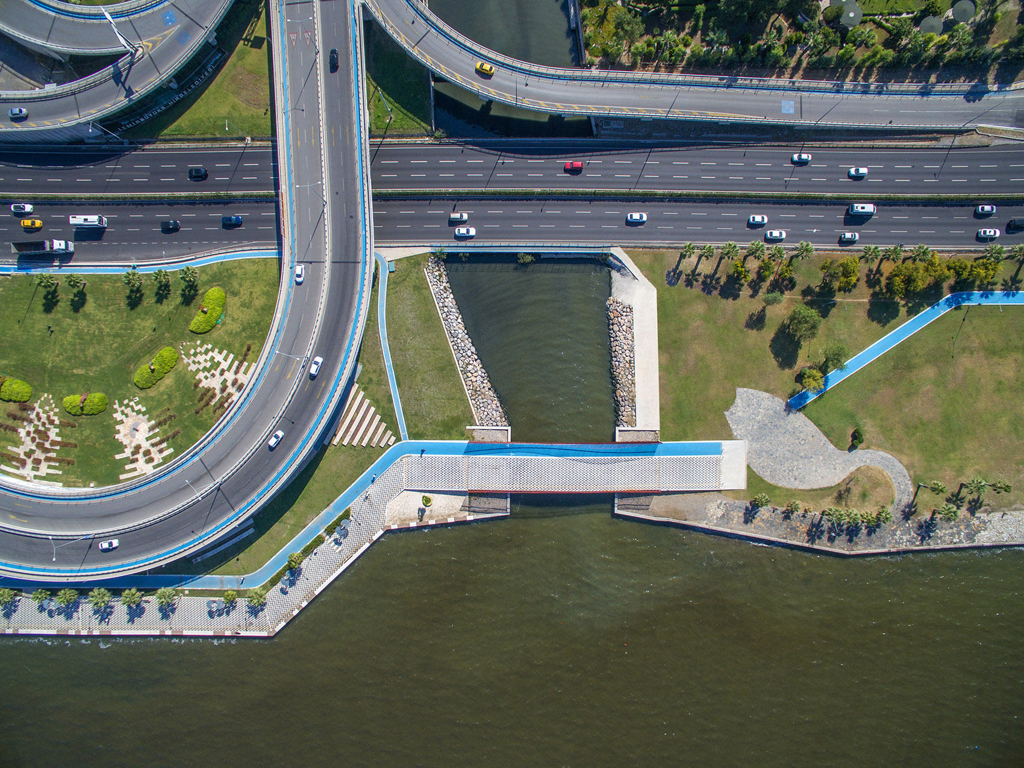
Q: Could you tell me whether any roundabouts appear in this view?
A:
No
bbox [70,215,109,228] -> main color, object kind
white vehicle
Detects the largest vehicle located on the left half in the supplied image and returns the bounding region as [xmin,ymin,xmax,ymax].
[11,240,76,254]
